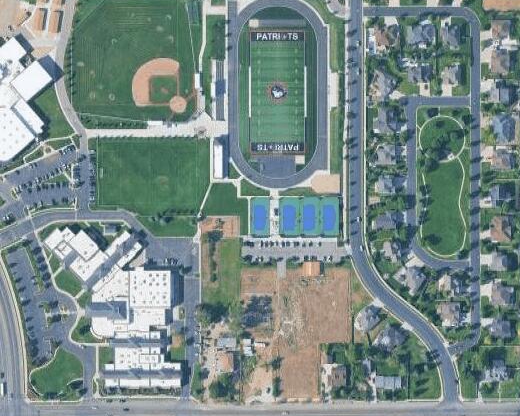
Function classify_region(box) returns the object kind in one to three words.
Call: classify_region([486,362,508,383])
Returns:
house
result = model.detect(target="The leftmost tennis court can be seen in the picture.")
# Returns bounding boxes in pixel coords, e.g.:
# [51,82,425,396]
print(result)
[250,197,270,236]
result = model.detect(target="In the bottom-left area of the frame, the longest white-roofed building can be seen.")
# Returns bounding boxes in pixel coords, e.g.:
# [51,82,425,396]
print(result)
[44,228,181,388]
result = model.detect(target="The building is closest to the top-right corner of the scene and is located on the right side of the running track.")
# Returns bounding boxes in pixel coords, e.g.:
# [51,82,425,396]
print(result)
[491,20,511,44]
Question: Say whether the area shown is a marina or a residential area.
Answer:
residential area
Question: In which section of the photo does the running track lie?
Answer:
top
